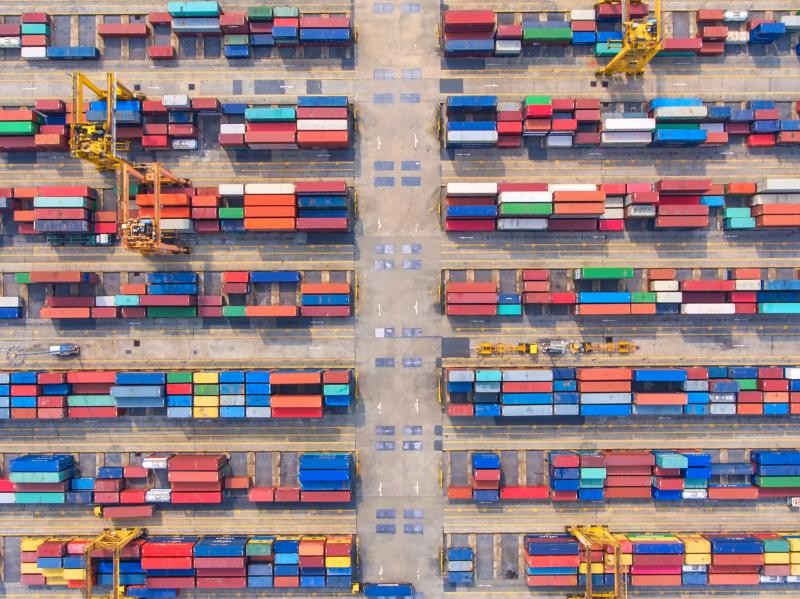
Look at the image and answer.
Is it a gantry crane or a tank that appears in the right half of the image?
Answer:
gantry crane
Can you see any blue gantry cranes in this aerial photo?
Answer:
No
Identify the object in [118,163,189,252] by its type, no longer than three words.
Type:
container crane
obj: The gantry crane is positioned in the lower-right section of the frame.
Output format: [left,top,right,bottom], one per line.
[561,524,623,599]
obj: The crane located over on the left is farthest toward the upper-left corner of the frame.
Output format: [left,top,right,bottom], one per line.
[71,73,146,169]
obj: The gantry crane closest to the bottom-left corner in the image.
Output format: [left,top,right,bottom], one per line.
[84,527,154,599]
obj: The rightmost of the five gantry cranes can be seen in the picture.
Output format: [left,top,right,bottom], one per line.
[596,0,661,76]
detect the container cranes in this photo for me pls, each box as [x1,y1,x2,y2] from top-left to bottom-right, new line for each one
[71,73,146,169]
[596,0,661,76]
[84,527,154,599]
[118,163,189,252]
[561,524,623,599]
